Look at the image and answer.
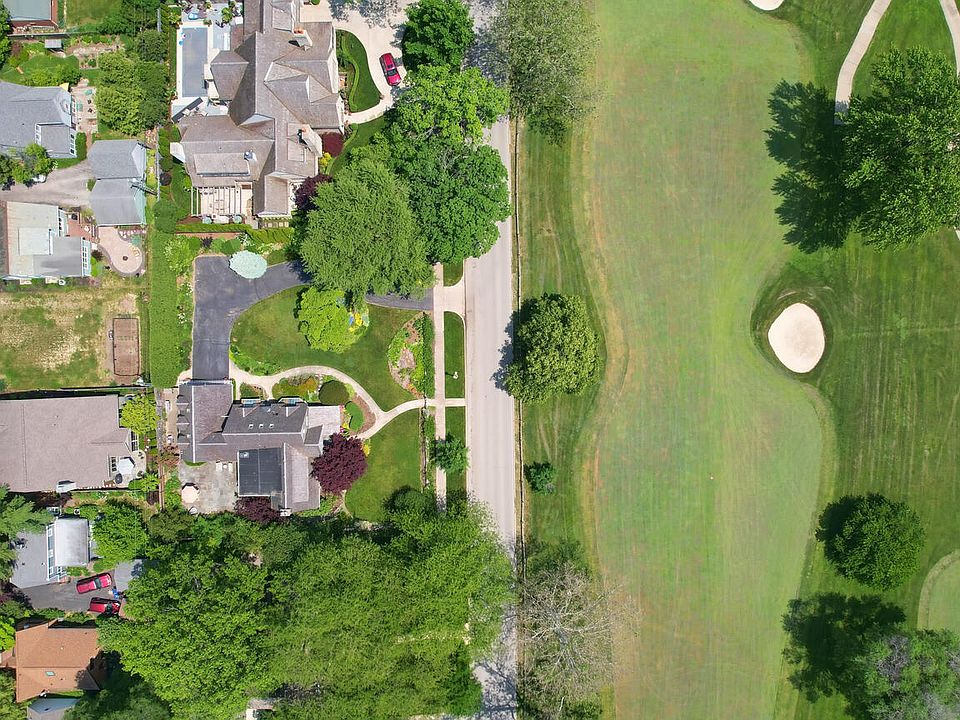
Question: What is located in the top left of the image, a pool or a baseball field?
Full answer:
What appears in the top left of the image is a pool.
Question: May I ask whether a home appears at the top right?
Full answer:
No, I can find no home at the top right.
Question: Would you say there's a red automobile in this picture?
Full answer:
Yes, you can see a red automobile in this photo.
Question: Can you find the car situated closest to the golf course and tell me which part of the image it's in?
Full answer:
The car situated closest to the golf course is in the top part of the image.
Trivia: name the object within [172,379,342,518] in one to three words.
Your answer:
house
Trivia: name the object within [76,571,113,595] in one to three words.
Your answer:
car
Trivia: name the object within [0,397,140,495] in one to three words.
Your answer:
house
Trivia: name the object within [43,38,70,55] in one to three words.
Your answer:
shed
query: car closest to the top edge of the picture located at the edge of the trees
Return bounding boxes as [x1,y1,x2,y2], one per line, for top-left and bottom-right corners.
[378,51,402,87]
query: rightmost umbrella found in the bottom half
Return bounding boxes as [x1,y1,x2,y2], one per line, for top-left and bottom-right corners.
[181,485,200,503]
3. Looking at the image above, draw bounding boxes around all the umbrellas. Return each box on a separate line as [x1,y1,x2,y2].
[113,473,128,484]
[181,485,200,503]
[116,458,137,475]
